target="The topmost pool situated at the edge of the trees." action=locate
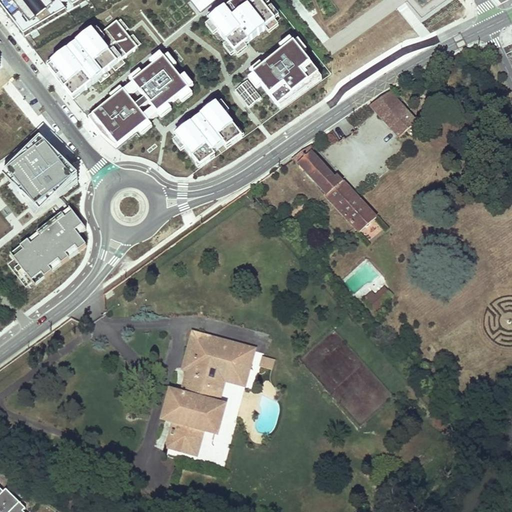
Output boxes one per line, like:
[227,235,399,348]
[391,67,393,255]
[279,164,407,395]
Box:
[344,258,386,300]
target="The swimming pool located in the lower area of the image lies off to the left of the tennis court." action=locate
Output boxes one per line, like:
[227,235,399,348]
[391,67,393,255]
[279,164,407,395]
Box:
[239,380,282,444]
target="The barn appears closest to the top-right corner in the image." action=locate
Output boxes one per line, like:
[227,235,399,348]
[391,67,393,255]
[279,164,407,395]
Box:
[370,91,415,141]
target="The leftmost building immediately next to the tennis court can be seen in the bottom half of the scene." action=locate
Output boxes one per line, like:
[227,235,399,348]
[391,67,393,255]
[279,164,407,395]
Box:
[160,329,264,467]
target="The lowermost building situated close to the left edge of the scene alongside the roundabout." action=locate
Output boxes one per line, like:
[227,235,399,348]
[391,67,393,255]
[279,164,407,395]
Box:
[8,207,87,288]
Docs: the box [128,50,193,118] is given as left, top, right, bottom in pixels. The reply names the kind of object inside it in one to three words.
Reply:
house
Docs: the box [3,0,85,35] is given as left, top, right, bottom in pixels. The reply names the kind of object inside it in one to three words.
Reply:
building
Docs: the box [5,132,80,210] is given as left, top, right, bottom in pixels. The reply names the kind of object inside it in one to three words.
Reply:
building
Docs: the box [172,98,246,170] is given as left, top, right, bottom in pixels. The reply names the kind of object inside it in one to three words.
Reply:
house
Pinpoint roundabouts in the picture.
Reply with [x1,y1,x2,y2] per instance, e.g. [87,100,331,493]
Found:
[92,168,180,246]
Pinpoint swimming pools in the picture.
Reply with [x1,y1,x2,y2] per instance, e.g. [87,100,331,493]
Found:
[239,380,282,444]
[344,258,386,300]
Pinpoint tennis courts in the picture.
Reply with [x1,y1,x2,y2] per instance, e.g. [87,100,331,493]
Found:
[302,330,391,424]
